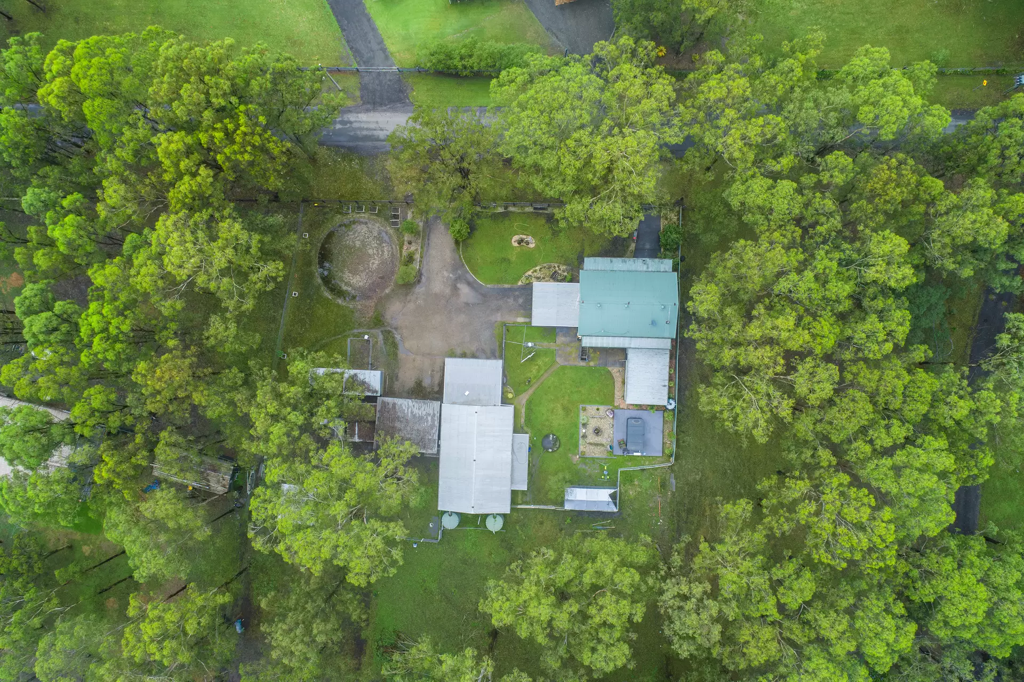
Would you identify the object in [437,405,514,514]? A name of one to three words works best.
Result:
shed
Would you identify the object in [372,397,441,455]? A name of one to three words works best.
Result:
barn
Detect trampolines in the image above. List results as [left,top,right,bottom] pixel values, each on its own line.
[542,434,559,451]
